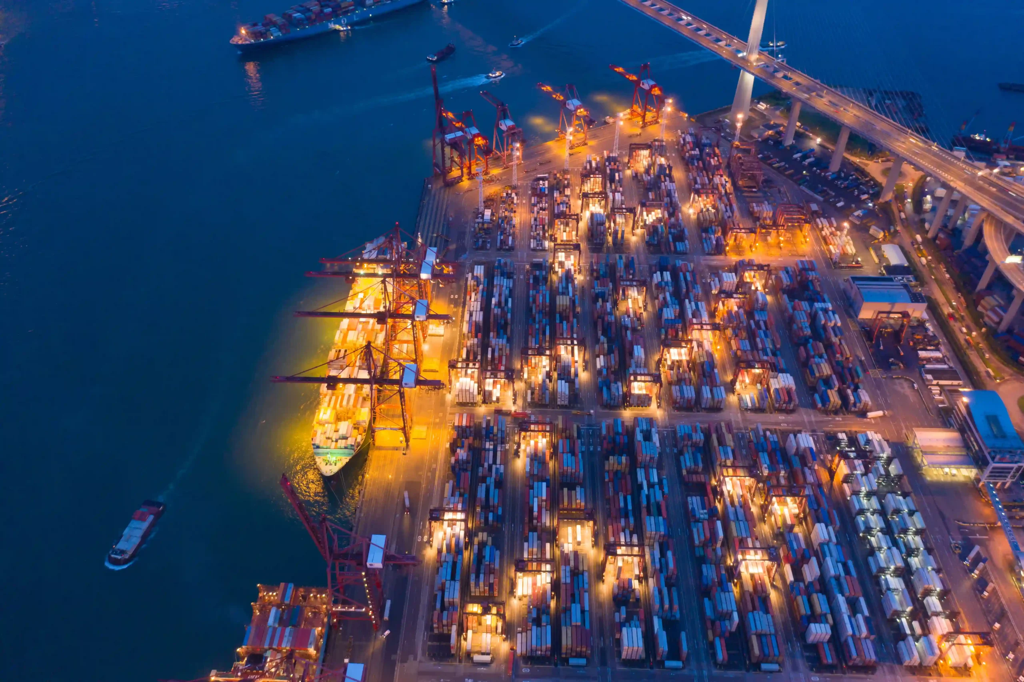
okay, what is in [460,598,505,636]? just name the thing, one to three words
container crane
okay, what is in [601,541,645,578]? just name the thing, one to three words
container crane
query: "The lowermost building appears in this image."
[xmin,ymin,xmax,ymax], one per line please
[953,390,1024,499]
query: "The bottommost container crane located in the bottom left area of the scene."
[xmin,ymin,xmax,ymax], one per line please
[149,651,374,682]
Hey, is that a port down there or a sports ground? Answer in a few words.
port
